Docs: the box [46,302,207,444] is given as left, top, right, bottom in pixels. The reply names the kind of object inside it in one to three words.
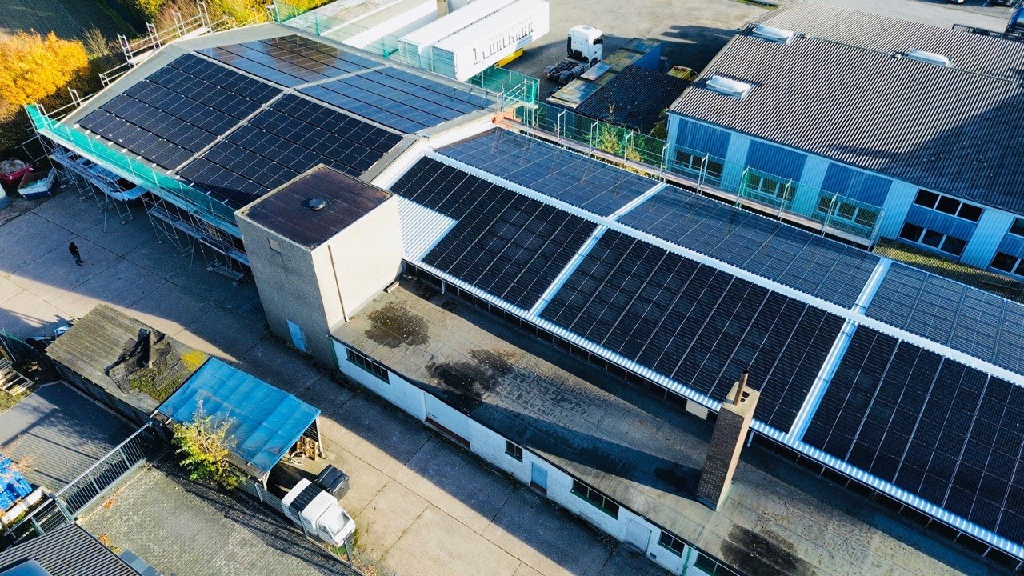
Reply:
shed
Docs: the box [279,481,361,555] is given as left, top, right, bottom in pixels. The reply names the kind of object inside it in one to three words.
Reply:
truck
